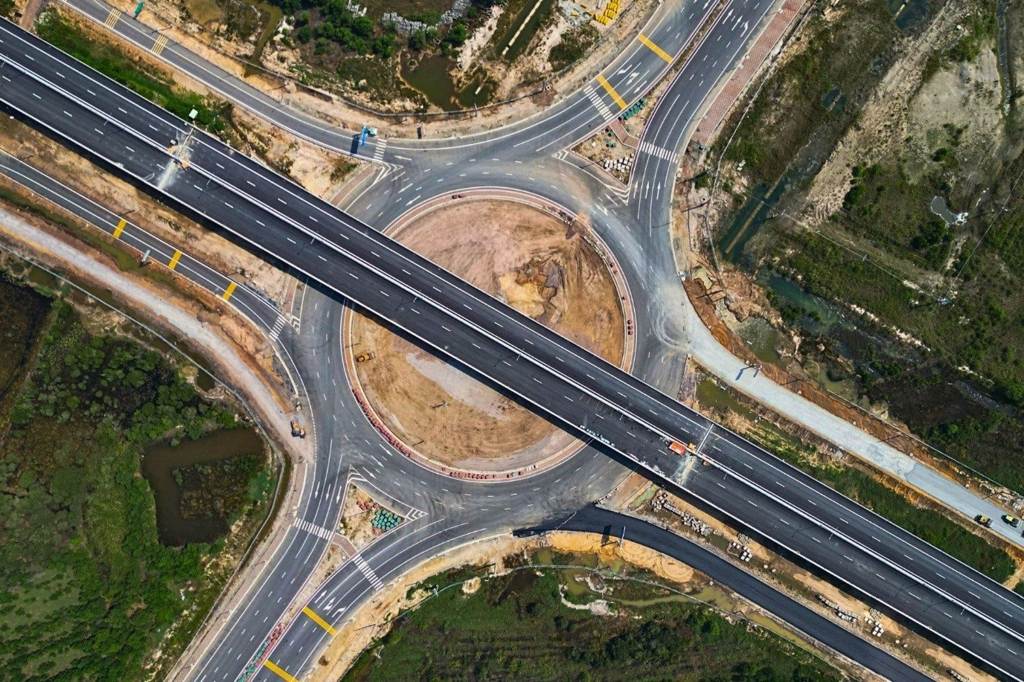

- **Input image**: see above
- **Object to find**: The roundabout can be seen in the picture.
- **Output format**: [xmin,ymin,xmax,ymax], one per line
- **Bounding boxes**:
[289,151,687,530]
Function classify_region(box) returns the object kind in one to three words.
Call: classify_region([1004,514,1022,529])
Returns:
work vehicle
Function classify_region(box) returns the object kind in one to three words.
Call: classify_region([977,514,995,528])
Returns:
work vehicle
